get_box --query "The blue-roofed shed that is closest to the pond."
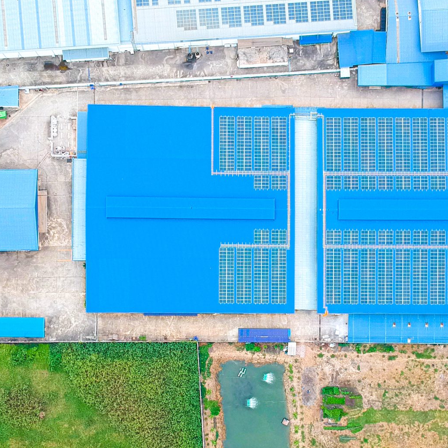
[239,328,291,342]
